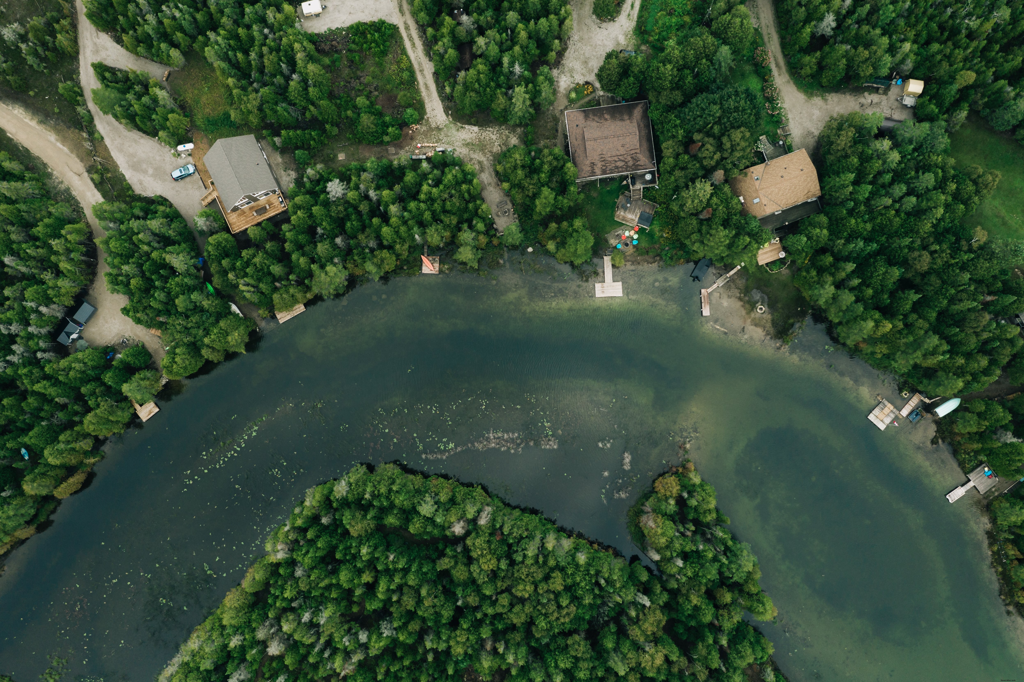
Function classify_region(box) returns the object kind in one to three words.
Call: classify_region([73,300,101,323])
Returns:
shed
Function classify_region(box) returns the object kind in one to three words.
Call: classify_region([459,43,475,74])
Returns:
building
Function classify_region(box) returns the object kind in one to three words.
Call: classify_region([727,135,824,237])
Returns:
house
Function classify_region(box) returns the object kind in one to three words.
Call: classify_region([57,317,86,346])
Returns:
shed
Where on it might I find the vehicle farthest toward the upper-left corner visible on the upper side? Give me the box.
[170,164,197,182]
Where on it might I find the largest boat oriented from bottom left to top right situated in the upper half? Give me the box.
[690,258,712,282]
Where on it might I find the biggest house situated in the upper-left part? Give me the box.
[198,134,294,234]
